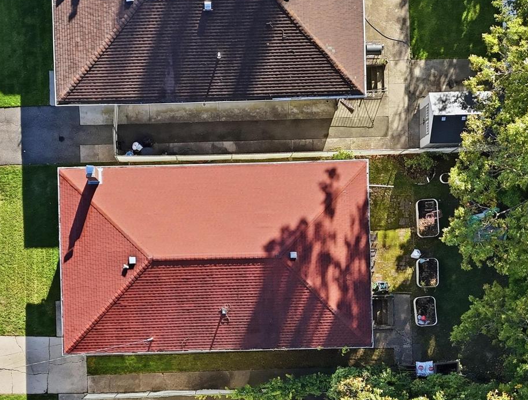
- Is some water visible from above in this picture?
No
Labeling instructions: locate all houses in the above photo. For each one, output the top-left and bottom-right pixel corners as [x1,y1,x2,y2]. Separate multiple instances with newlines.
[55,156,375,357]
[50,0,369,108]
